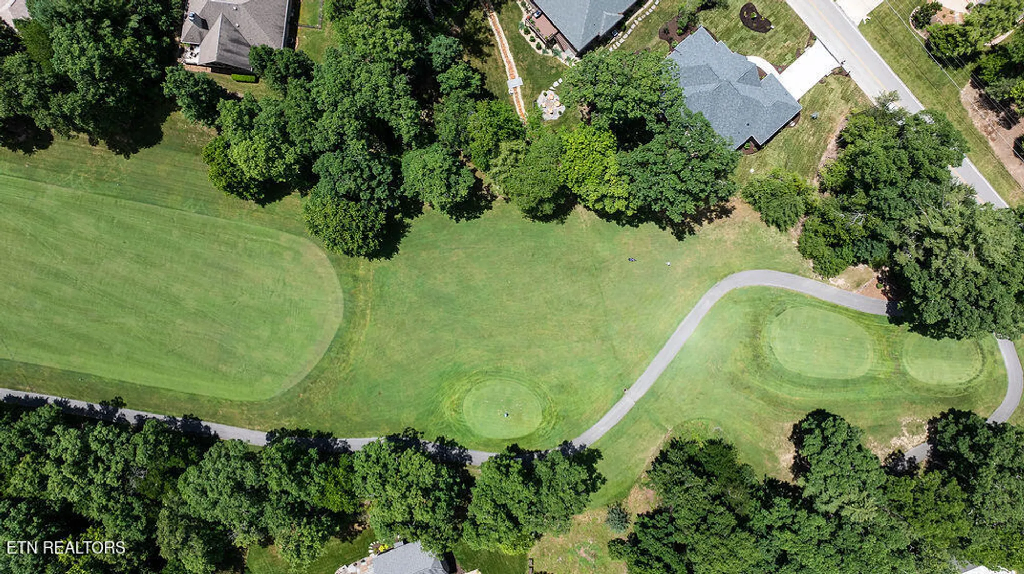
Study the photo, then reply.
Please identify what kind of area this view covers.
golf course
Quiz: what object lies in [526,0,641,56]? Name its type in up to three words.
house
